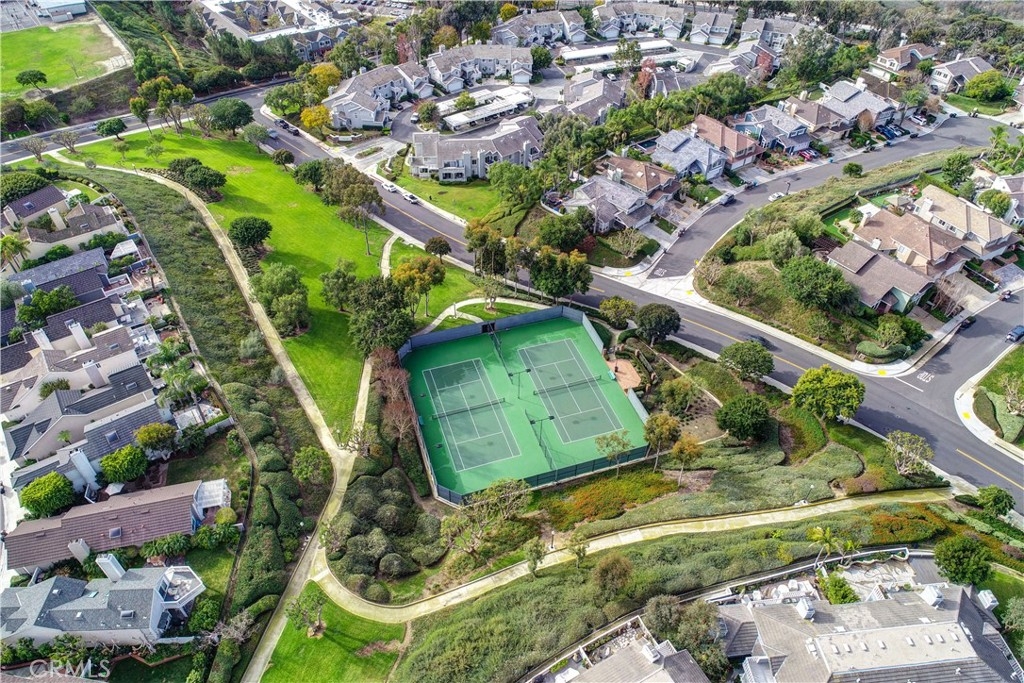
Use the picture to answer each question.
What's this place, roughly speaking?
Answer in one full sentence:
It's a residential area.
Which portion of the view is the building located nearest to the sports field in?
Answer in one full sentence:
You can find the building located nearest to the sports field in the top left area of the picture.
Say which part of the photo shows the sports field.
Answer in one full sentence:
The sports field sits in the top left section of the image.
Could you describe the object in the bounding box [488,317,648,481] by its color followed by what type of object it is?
green tennis court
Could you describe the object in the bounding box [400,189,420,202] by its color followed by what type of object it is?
white vehicle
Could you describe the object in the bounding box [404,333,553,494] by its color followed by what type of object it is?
green tennis court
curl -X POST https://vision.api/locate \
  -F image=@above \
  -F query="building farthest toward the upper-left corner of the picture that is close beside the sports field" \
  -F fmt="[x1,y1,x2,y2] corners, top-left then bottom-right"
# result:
[39,0,90,28]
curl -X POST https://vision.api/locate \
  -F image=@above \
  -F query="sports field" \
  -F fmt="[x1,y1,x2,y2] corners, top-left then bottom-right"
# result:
[0,21,131,104]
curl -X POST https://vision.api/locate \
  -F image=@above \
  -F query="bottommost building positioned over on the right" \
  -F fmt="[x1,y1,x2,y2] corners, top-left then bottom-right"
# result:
[576,628,704,683]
